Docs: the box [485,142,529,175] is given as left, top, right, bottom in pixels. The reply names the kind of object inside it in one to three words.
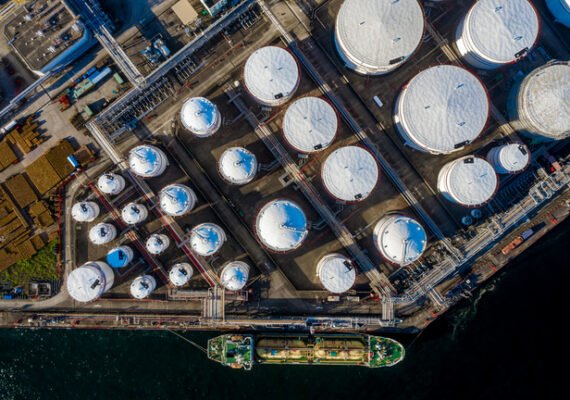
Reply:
storage tank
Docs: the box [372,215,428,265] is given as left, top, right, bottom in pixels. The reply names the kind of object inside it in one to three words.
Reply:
storage tank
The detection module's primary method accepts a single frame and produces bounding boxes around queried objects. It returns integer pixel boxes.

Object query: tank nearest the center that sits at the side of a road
[255,198,308,251]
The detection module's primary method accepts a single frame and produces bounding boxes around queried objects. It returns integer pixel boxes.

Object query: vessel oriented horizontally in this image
[207,332,405,371]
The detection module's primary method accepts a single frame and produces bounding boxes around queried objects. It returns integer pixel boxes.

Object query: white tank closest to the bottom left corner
[66,260,117,304]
